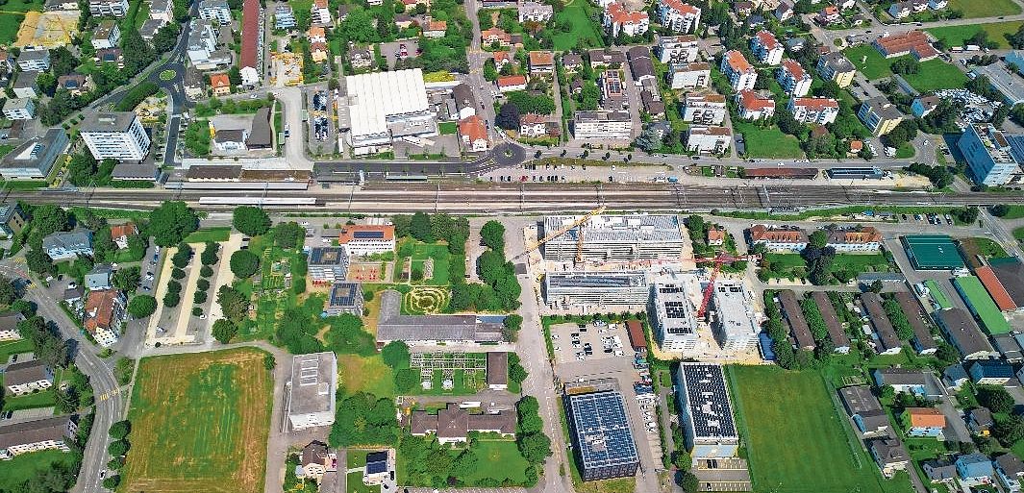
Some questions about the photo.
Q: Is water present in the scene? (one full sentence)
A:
No, there's no water in this view.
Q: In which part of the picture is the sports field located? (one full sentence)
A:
The sports field sits in the bottom right section of the image.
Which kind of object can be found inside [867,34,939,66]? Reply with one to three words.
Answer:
building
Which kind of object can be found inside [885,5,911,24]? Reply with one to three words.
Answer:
house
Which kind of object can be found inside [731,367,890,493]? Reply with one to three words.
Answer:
sports field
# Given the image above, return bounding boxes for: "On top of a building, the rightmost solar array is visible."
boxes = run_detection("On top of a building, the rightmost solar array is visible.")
[1001,136,1024,172]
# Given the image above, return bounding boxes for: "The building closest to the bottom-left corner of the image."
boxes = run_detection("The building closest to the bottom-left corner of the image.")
[0,413,77,458]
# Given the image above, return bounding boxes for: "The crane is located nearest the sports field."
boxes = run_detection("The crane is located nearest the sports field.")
[604,253,760,322]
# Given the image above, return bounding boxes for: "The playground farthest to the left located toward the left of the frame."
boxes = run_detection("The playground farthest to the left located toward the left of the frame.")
[297,272,334,306]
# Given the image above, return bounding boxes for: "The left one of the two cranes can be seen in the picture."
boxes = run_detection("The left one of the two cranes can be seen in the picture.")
[519,206,606,266]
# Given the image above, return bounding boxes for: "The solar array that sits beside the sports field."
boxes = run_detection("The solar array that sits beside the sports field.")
[683,366,735,435]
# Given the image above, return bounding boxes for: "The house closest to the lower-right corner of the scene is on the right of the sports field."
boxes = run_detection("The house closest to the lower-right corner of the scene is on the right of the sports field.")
[991,454,1024,485]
